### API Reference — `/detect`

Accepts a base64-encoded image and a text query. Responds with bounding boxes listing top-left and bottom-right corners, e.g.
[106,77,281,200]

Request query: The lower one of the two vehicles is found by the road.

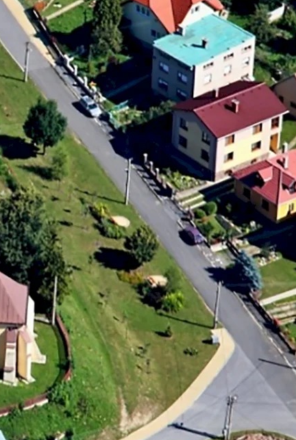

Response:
[182,223,205,243]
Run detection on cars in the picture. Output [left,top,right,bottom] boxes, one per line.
[182,223,205,243]
[80,94,100,113]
